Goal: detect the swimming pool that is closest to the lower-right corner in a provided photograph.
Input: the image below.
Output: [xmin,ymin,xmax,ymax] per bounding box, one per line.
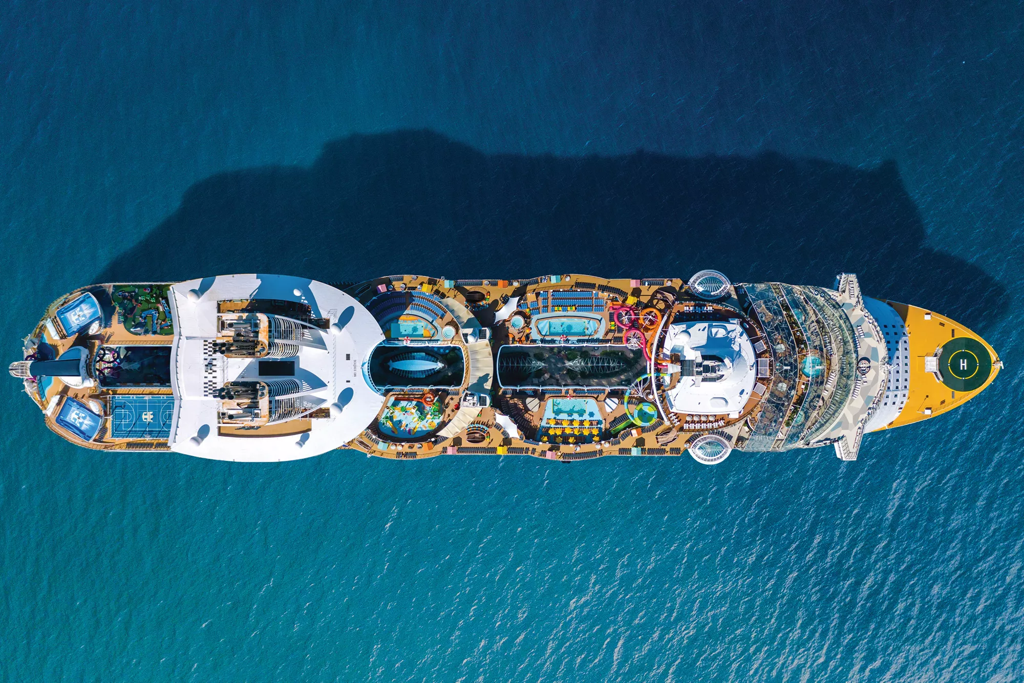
[801,357,821,378]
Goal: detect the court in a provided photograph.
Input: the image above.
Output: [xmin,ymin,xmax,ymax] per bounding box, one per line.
[111,396,177,438]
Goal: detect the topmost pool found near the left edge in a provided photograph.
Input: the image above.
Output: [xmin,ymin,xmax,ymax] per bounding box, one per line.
[42,292,105,340]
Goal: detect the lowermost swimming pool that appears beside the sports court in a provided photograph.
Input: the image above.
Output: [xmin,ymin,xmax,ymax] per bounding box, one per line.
[43,393,105,442]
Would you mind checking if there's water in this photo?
Yes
